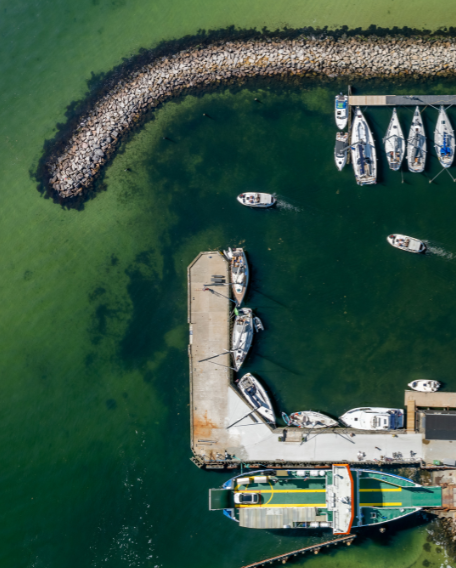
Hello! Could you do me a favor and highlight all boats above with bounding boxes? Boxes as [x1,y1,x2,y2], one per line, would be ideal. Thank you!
[432,105,455,178]
[342,105,379,186]
[213,307,255,371]
[290,411,341,433]
[237,192,278,208]
[212,249,250,305]
[254,317,264,333]
[408,377,442,392]
[333,129,348,171]
[334,92,348,129]
[232,372,276,423]
[340,406,406,430]
[405,105,428,177]
[381,106,406,181]
[388,233,428,253]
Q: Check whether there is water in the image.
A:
Yes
